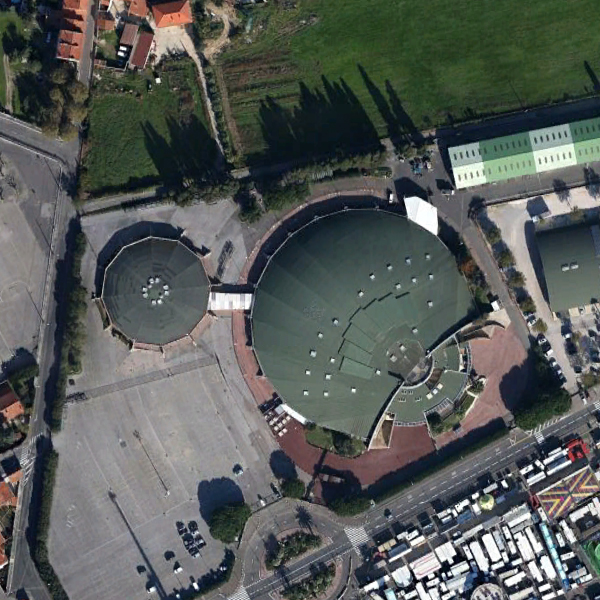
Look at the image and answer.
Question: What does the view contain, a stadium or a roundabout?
stadium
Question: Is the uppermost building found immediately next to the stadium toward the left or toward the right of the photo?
right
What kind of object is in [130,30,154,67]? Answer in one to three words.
barn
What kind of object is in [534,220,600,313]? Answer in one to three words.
building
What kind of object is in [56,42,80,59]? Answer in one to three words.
house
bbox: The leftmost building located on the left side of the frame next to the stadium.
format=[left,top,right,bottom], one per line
[94,229,218,352]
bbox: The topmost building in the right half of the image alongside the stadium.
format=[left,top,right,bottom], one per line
[448,117,600,189]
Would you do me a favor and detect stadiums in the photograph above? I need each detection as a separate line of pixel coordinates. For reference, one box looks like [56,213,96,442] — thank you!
[244,203,511,449]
